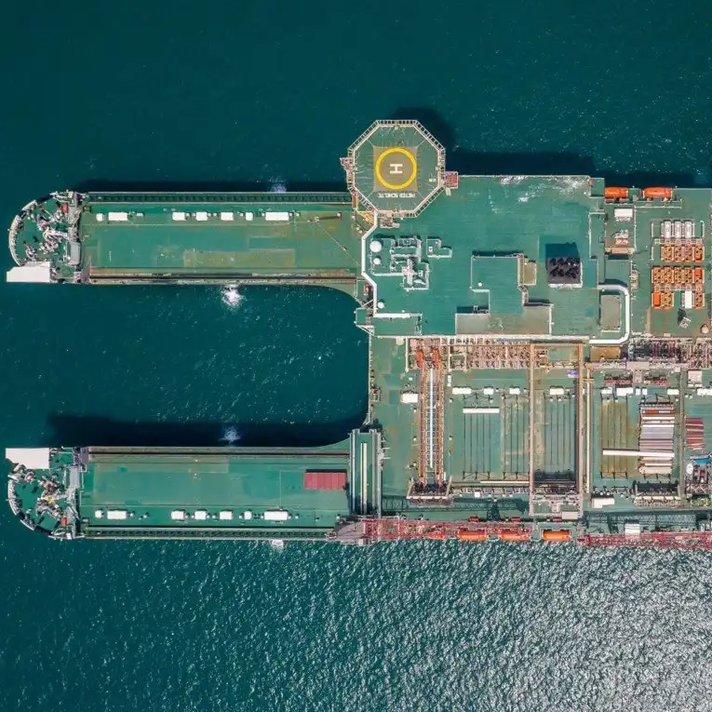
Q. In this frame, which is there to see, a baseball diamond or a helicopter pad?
helicopter pad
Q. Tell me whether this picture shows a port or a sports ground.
port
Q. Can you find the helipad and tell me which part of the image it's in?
top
